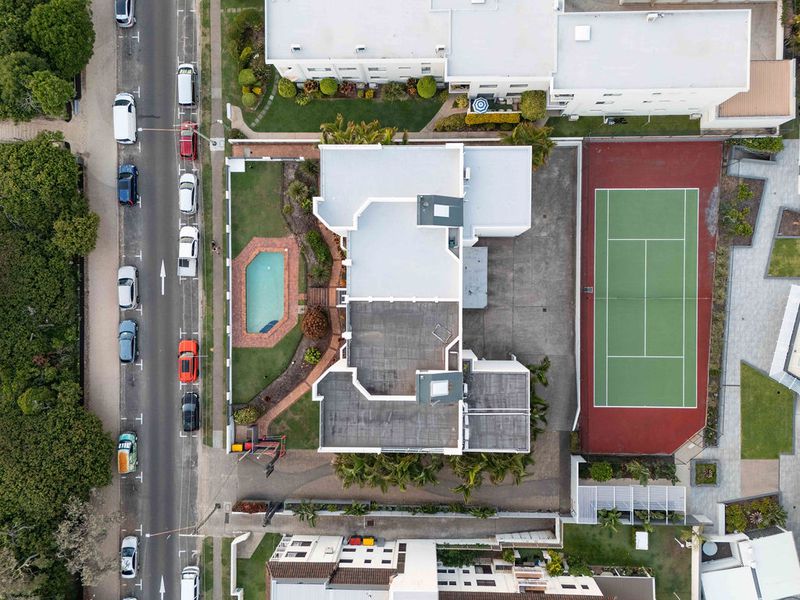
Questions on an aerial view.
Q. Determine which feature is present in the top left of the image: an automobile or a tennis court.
automobile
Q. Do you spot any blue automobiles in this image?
Yes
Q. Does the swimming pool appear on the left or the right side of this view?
left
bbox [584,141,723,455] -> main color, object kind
green tennis court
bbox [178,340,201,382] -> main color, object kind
red car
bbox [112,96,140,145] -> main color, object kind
white vehicle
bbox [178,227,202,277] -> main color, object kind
white truck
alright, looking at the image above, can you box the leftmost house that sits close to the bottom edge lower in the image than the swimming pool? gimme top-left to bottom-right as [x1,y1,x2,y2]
[266,535,346,600]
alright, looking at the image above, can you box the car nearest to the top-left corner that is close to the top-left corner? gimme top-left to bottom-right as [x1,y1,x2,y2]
[115,0,138,27]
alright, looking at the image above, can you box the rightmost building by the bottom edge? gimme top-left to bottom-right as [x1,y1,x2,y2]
[699,526,800,600]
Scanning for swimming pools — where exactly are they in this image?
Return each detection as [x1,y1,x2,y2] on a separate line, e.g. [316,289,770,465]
[235,237,299,348]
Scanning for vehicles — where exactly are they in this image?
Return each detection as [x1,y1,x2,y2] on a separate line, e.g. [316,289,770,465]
[178,173,200,215]
[180,563,203,600]
[177,65,198,107]
[178,121,200,162]
[115,0,138,27]
[118,430,141,475]
[112,96,140,145]
[117,266,141,309]
[180,391,202,433]
[178,340,201,382]
[120,534,141,580]
[117,320,141,362]
[117,166,141,206]
[178,227,202,277]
